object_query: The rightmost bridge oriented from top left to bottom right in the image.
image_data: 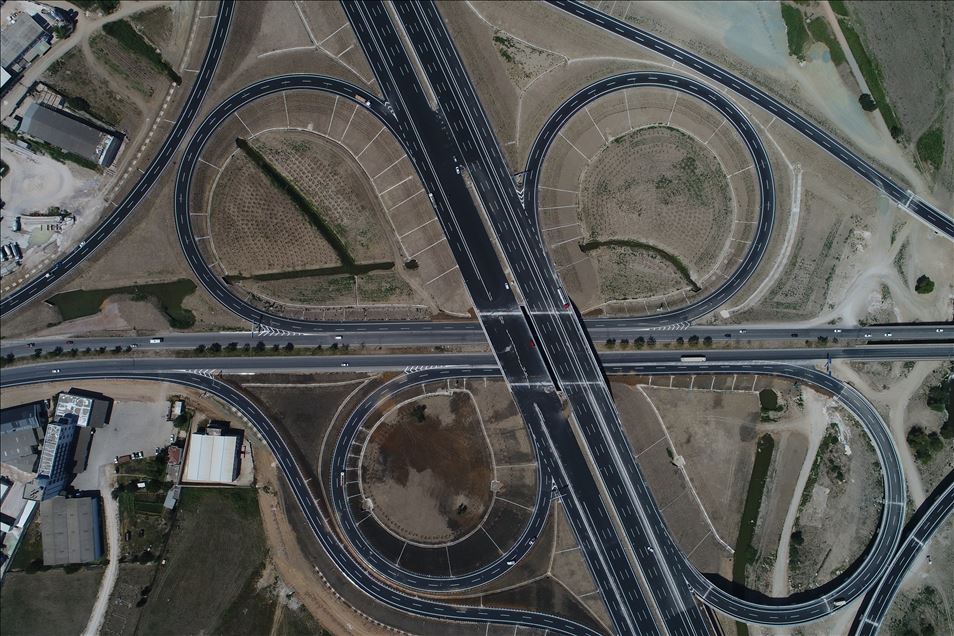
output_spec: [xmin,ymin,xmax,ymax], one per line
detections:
[900,192,954,242]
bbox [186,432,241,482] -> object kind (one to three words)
building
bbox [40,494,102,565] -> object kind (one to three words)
hangar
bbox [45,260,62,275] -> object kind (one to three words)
vehicle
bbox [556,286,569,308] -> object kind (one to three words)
vehicle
